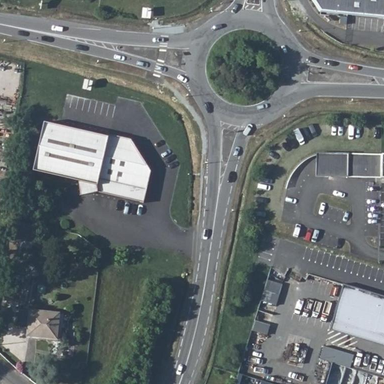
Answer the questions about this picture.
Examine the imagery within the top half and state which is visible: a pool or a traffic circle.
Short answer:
traffic circle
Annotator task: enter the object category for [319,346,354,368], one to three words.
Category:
shed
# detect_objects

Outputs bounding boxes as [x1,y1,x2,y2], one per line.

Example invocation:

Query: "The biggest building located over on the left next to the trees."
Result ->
[33,121,152,203]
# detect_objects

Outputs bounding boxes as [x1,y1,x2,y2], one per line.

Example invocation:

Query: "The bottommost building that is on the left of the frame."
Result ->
[26,310,62,340]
